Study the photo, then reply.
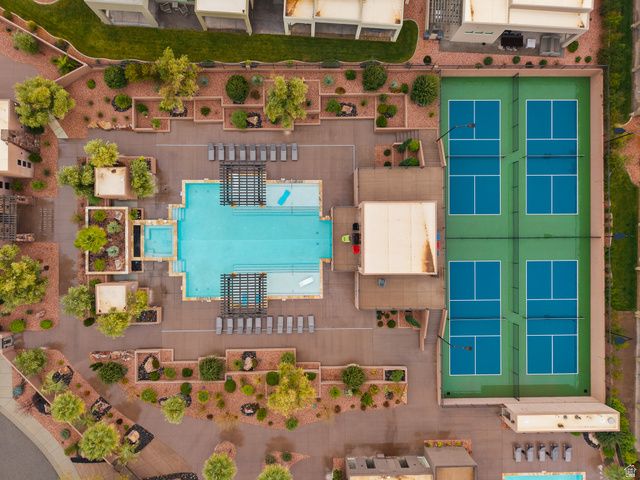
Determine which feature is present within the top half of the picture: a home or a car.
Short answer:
home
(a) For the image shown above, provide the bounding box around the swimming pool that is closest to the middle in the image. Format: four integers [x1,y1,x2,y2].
[169,178,332,301]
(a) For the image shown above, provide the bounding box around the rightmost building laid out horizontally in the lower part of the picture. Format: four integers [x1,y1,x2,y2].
[502,406,619,432]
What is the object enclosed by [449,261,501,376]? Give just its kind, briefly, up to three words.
sports court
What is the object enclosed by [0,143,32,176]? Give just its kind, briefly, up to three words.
house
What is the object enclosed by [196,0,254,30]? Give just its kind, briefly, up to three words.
house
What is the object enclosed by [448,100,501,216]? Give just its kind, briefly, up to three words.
sports court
